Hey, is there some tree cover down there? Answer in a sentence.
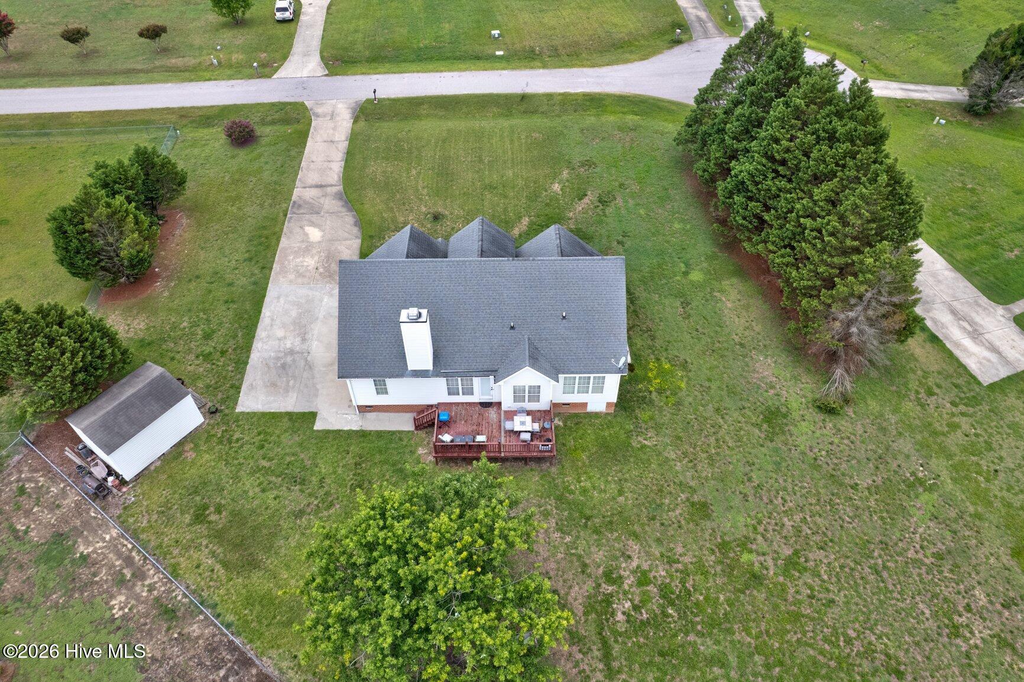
Yes, the picture does contain tree cover.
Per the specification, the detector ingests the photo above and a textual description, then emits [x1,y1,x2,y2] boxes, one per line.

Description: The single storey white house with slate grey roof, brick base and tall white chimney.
[337,216,629,419]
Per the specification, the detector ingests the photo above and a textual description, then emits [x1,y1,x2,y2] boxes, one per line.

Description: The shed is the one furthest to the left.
[65,362,204,480]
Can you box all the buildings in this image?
[337,216,629,419]
[65,362,204,480]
